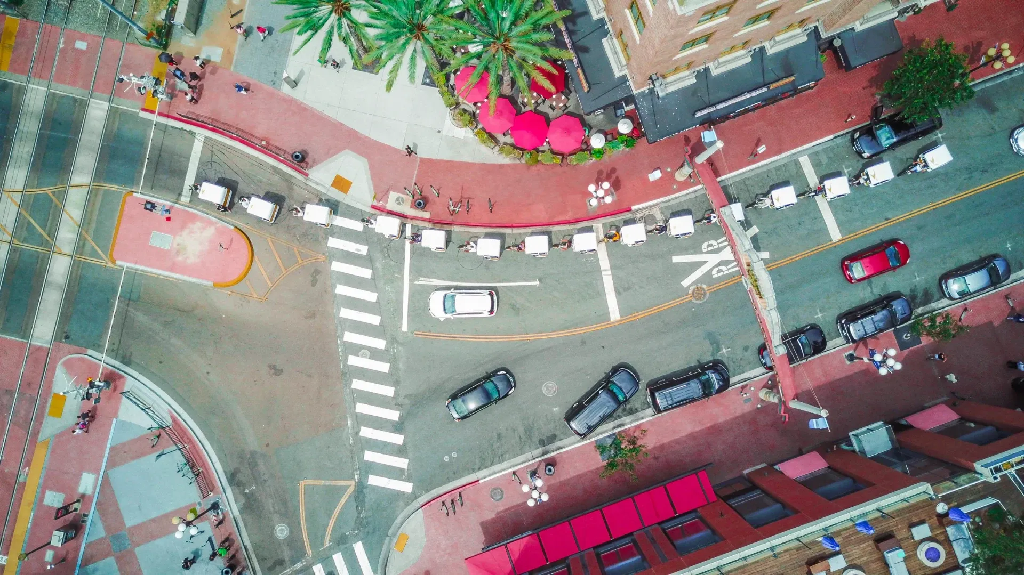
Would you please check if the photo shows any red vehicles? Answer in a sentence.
Yes, this view includes a red vehicle.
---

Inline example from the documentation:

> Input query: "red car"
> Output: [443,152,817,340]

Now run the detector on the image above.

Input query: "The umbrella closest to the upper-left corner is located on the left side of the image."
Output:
[157,50,173,67]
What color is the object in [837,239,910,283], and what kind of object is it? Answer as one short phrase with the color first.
red car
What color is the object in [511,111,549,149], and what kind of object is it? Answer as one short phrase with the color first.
pink umbrella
